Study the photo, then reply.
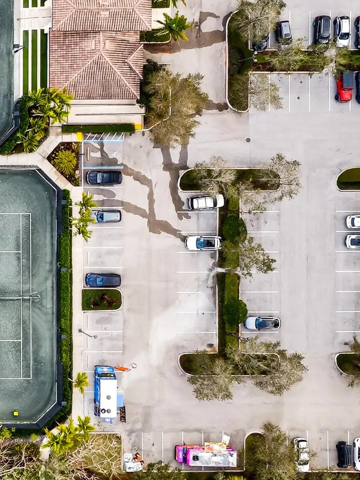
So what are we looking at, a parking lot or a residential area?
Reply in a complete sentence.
This looks like a parking lot.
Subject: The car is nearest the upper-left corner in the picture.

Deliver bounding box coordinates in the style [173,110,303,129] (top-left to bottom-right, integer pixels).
[86,170,124,186]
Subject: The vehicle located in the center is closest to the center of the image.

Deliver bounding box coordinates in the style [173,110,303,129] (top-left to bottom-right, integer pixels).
[185,236,222,251]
